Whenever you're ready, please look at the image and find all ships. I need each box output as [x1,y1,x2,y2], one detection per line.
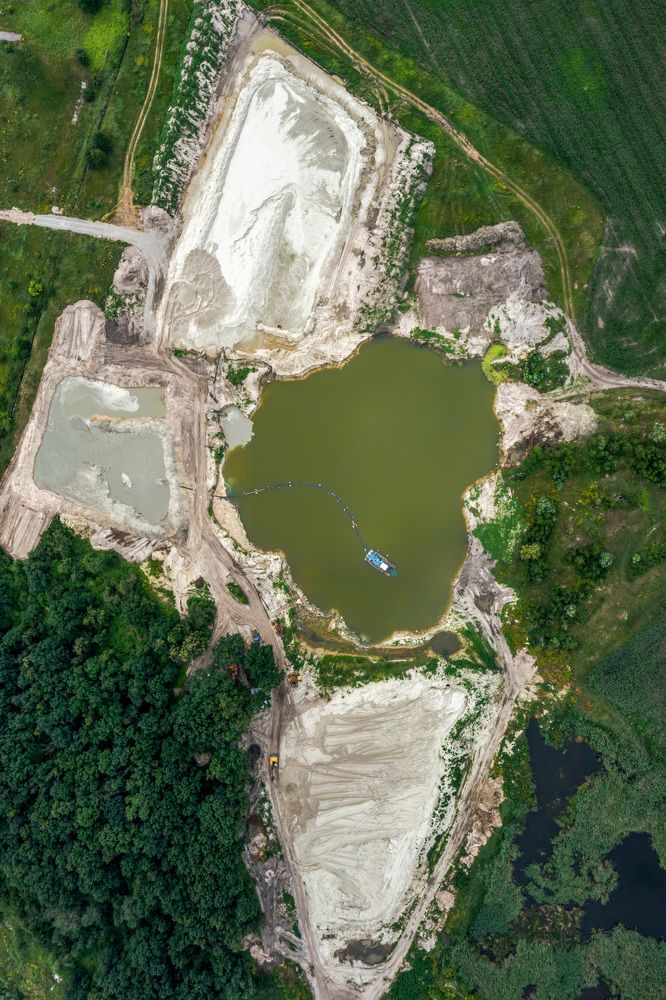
[363,547,398,576]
